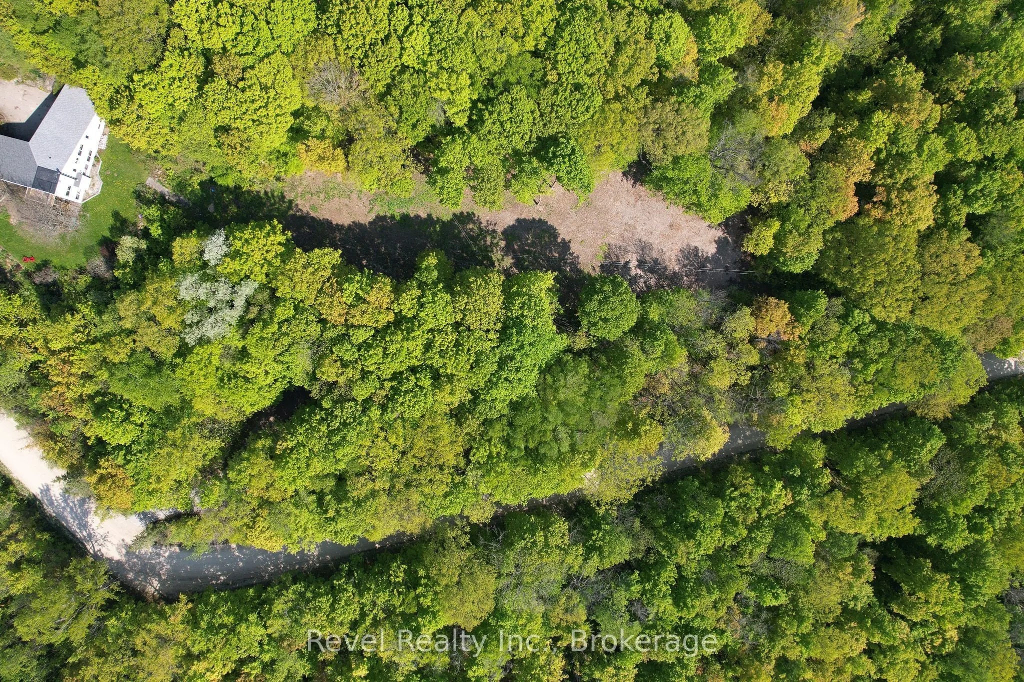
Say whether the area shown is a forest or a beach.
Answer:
forest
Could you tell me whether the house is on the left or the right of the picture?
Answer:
left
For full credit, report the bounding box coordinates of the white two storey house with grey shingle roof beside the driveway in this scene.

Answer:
[0,90,107,217]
